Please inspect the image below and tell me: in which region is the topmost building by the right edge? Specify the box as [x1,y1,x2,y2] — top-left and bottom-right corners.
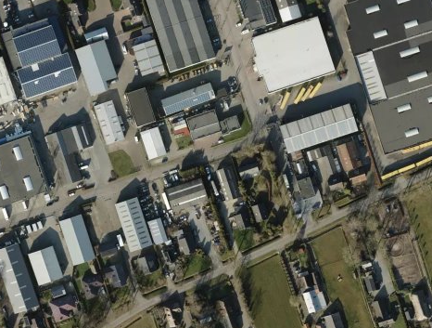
[344,0,432,56]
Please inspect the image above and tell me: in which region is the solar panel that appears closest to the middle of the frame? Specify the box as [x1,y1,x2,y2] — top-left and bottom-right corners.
[166,94,205,115]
